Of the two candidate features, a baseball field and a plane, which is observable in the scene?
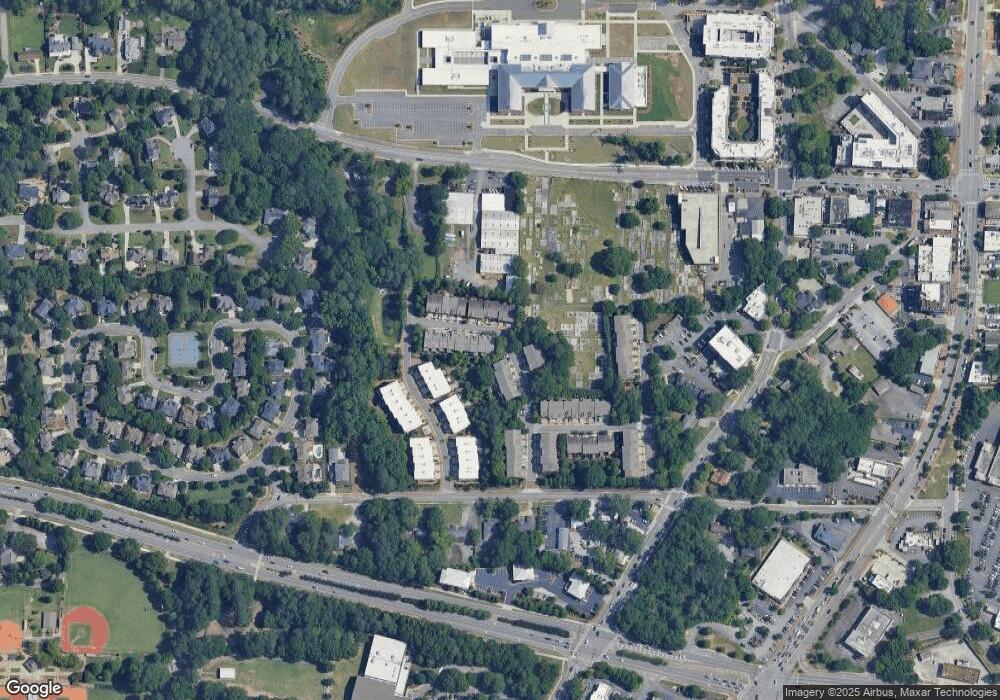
baseball field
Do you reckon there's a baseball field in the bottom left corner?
Yes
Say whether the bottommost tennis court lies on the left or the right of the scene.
left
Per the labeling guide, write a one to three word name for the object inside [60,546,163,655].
baseball field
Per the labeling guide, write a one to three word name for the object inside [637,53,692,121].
sports field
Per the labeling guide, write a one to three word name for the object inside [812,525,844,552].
house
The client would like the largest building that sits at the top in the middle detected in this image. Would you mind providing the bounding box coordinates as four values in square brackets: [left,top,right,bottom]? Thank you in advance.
[422,18,603,111]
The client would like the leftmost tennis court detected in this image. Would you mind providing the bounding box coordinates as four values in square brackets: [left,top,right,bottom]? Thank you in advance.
[169,332,200,366]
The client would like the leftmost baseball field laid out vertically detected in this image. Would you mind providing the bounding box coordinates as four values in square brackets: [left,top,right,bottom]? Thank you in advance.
[0,586,24,658]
